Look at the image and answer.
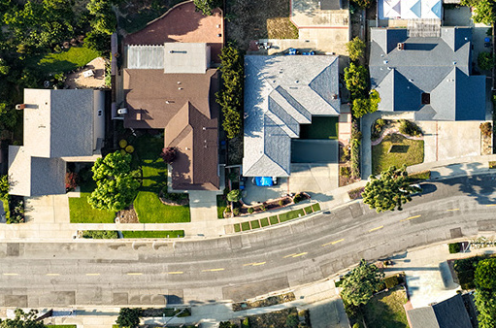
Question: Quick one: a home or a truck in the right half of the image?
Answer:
home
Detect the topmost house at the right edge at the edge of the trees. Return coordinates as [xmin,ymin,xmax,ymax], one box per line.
[368,27,487,122]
